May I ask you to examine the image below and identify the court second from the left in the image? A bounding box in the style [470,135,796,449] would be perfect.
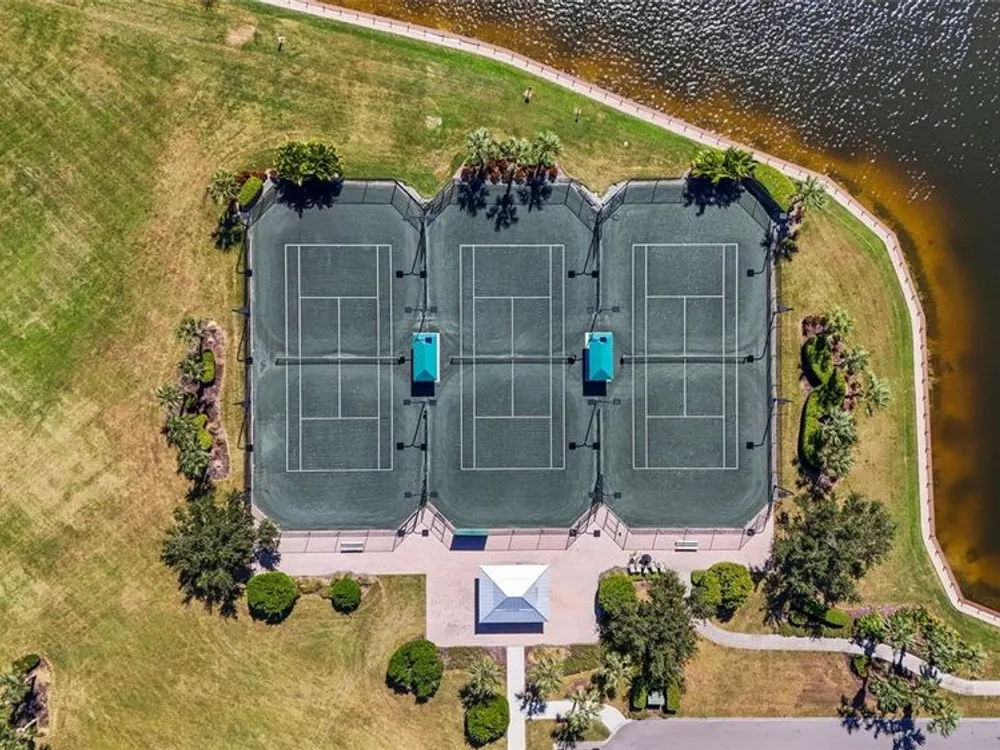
[425,183,600,532]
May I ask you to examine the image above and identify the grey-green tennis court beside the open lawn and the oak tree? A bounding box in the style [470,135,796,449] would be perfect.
[248,183,426,532]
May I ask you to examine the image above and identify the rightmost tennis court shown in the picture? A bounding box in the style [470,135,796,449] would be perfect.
[598,183,777,532]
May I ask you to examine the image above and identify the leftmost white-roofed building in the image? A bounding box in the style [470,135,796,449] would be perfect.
[478,564,550,623]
